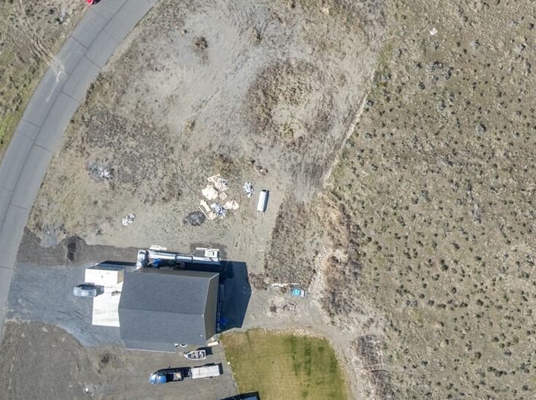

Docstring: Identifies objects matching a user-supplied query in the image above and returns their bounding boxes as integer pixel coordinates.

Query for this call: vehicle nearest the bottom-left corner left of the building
[73,284,98,298]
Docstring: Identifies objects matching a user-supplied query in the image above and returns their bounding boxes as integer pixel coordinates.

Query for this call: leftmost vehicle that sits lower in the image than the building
[150,370,186,387]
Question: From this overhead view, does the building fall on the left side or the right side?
left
